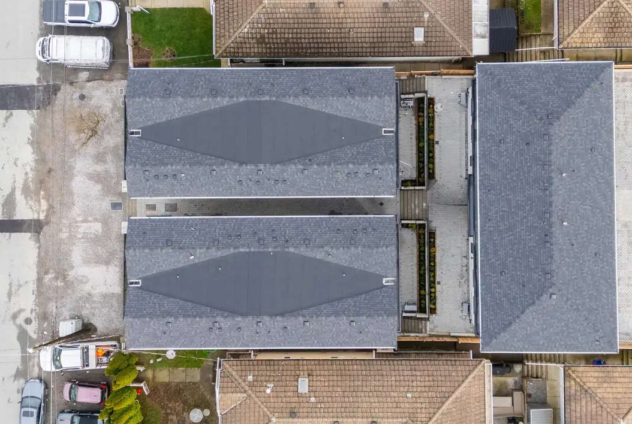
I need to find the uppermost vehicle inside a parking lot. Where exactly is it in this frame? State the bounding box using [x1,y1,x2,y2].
[43,0,119,27]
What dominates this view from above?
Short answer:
buildings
